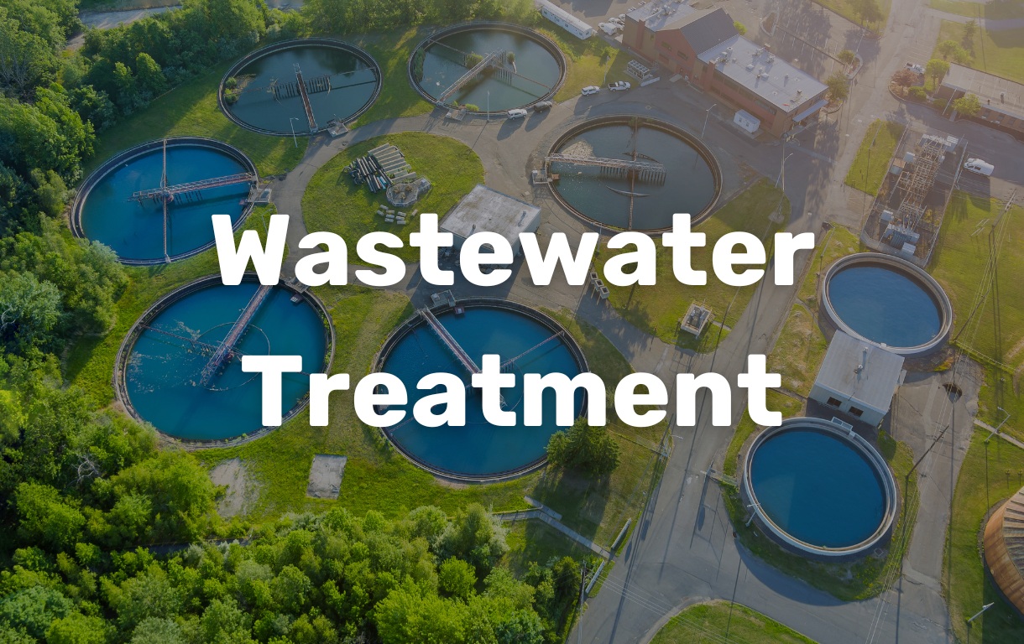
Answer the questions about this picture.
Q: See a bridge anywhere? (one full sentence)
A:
Yes, you can see a bridge in this photo.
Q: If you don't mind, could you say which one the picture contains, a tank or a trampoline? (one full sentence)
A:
The one in the frame is a tank.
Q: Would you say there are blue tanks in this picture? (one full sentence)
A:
Yes, a blue tank can be made out from above.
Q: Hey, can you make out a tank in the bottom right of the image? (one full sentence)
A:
Yes, a tank shows up in the bottom right of the image.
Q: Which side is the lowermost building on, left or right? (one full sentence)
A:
It is on the right.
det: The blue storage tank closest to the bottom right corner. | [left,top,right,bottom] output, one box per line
[738,417,898,562]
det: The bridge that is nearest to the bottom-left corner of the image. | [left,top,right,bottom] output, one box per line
[197,268,285,385]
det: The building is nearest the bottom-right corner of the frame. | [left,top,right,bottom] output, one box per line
[811,331,907,426]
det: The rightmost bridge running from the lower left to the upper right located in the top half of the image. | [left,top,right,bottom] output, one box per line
[434,45,504,105]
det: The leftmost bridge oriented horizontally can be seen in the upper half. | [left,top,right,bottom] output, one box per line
[118,163,260,208]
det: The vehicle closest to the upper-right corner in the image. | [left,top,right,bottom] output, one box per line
[905,59,928,74]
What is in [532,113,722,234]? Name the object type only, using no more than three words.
storage tank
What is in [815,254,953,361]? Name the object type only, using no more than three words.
storage tank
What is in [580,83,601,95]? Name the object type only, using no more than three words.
vehicle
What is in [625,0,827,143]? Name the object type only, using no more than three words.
building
